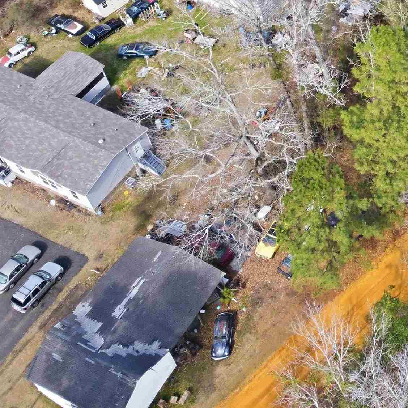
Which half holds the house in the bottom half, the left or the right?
left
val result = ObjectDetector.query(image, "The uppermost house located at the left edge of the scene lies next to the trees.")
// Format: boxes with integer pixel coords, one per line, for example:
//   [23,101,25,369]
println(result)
[0,50,157,211]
